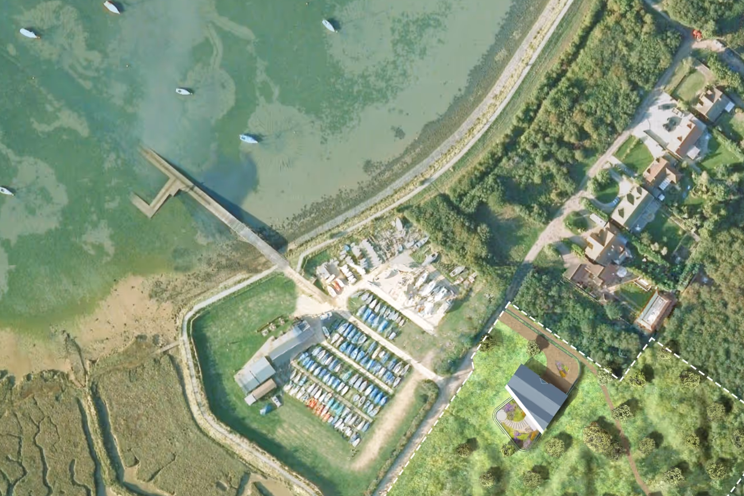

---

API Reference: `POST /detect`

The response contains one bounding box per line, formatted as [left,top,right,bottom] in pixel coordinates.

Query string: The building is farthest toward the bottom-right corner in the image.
[636,292,672,332]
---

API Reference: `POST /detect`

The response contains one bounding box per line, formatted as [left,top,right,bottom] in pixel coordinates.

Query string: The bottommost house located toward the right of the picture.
[505,365,569,435]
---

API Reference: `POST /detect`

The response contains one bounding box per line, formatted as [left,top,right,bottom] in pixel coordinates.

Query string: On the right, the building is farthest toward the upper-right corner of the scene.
[698,90,734,122]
